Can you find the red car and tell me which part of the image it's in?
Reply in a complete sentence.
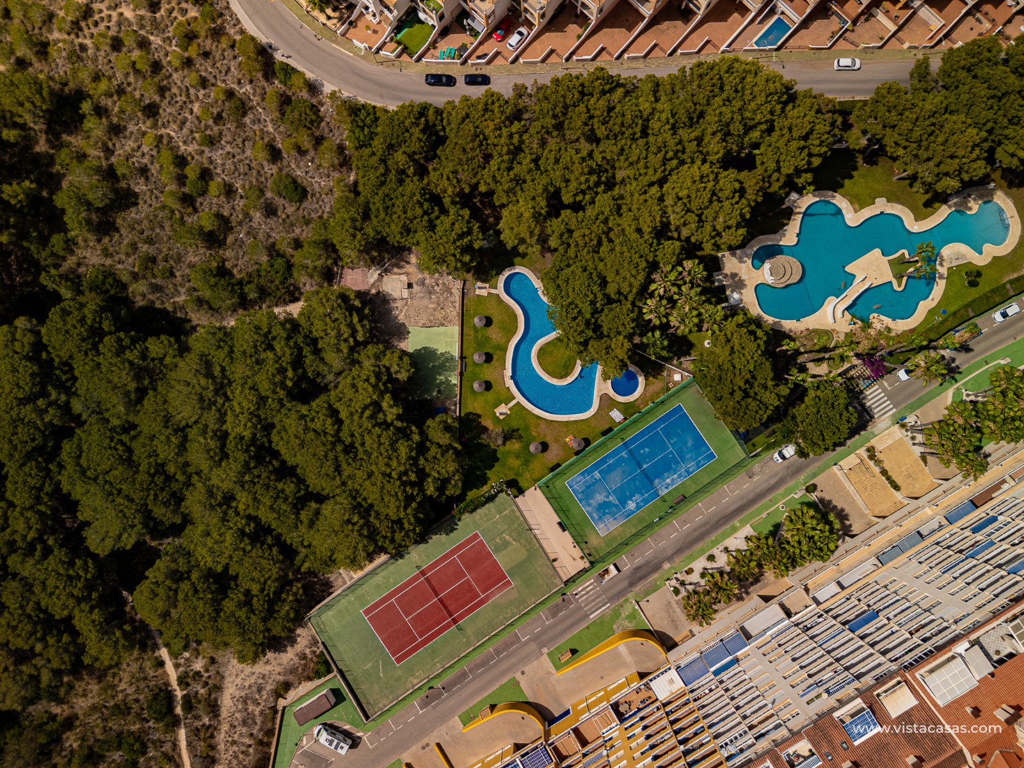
The red car is located in the top region of the scene.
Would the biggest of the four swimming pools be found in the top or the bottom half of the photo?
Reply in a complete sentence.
The biggest of the four swimming pools sits in the top half of the picture.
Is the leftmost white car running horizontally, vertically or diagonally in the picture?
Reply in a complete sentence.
In this picture, the leftmost white car lies diagonally.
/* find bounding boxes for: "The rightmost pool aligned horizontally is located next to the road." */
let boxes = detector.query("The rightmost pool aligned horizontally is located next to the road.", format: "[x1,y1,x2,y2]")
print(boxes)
[714,189,1021,333]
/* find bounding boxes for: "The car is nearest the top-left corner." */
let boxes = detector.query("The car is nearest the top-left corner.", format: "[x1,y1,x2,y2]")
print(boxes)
[425,73,455,88]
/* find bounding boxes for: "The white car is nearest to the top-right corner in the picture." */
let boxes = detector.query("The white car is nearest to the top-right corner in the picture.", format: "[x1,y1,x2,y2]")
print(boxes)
[832,57,859,72]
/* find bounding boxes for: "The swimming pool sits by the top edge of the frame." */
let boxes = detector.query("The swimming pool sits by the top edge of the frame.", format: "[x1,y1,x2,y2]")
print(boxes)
[752,14,793,47]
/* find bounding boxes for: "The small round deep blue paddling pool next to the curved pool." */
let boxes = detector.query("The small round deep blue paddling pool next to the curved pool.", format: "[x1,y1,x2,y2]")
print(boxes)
[605,363,645,403]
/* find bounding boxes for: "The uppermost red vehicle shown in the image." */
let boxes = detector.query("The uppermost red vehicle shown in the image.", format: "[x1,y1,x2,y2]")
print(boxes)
[493,19,513,44]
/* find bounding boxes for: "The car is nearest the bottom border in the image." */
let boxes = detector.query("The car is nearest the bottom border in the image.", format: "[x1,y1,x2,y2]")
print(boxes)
[771,445,799,464]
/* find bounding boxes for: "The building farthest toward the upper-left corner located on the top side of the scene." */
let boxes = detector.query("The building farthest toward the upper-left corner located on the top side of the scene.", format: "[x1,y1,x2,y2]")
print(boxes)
[378,0,420,28]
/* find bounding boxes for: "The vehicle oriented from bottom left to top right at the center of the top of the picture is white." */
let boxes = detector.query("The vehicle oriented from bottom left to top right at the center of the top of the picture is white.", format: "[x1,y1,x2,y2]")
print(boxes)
[506,27,528,53]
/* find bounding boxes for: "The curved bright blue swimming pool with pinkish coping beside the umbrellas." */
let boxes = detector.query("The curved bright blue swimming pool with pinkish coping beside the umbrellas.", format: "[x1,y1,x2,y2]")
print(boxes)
[498,266,608,421]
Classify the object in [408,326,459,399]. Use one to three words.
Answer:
sports court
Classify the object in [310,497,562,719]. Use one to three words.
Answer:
tennis court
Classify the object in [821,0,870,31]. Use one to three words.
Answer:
house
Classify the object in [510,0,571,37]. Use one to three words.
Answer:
house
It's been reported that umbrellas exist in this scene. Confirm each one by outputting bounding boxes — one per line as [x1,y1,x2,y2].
[572,437,585,450]
[530,442,542,454]
[473,315,485,327]
[473,351,485,363]
[473,379,485,392]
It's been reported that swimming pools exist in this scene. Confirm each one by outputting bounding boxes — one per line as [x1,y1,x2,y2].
[752,14,793,47]
[605,363,645,403]
[498,266,608,421]
[714,189,1021,333]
